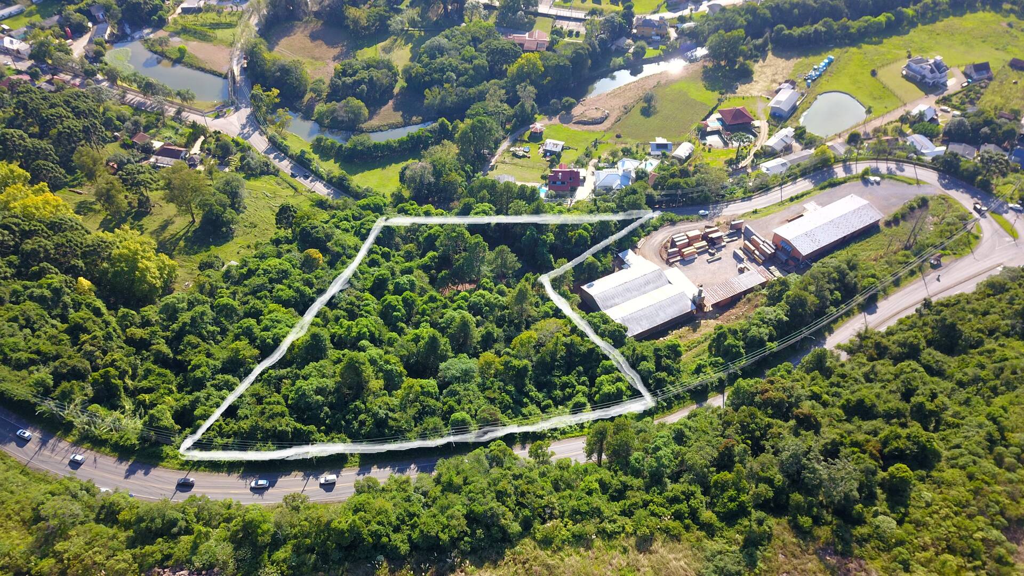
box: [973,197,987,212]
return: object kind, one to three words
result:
vehicle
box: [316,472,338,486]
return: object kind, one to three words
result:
vehicle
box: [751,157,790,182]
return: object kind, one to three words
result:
house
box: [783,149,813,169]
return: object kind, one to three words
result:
building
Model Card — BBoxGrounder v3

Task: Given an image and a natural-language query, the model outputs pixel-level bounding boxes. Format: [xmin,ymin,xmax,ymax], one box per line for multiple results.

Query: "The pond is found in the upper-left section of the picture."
[103,42,232,104]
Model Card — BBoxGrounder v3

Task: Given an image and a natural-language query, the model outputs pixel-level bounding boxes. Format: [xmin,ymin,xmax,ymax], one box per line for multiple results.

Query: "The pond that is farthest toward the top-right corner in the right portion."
[798,91,868,137]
